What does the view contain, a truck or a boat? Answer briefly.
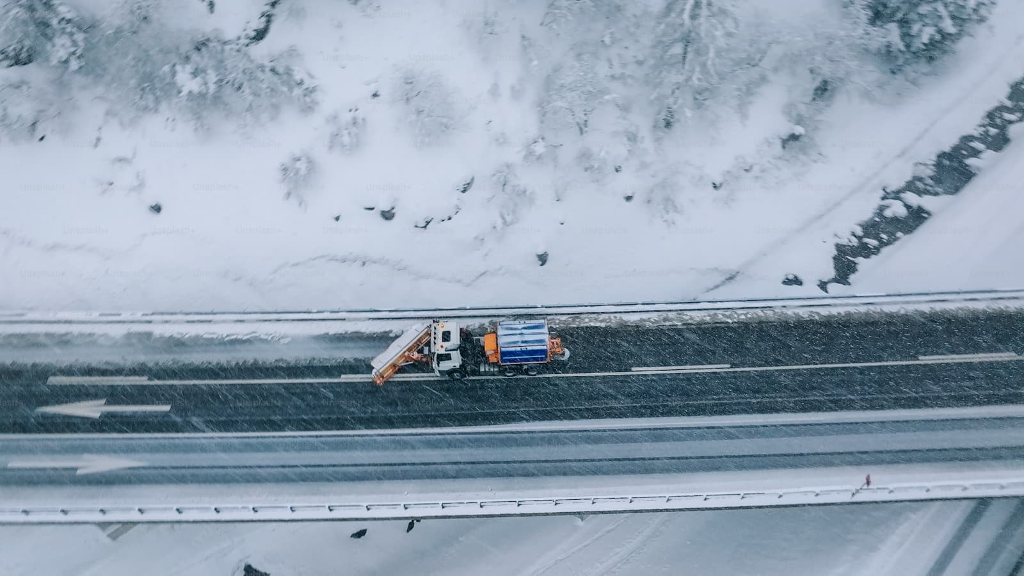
truck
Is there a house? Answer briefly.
No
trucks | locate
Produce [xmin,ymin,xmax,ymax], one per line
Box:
[370,317,571,389]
